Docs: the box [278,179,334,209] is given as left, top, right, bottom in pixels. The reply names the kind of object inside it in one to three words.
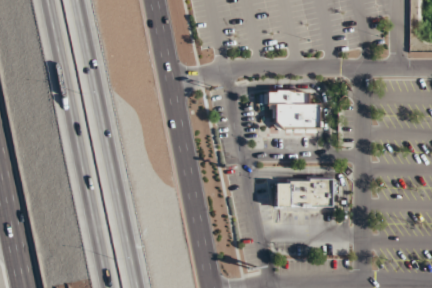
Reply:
building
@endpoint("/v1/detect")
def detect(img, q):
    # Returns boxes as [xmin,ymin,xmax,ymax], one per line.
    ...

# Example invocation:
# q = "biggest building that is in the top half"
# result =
[262,89,322,133]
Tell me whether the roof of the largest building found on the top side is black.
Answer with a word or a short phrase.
No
